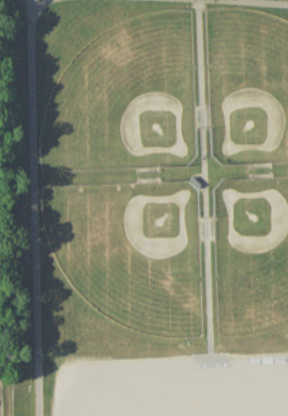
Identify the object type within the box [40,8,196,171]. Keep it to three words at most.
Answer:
baseball field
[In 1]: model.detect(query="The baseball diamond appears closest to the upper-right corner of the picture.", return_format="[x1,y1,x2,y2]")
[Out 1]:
[206,6,288,164]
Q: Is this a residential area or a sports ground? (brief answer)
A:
sports ground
